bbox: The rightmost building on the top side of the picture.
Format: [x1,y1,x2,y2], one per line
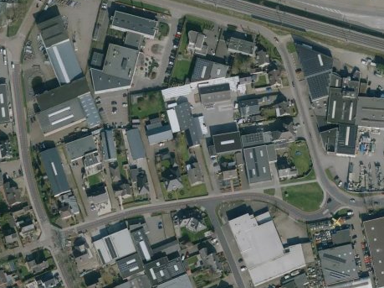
[356,96,384,129]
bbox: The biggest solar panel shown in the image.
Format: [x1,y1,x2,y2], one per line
[309,72,330,99]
